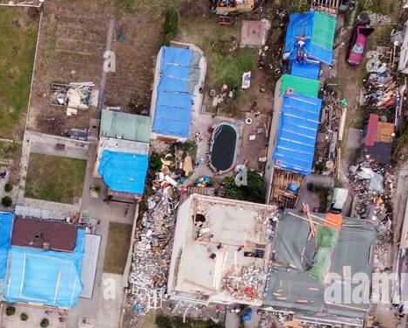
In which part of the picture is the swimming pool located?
center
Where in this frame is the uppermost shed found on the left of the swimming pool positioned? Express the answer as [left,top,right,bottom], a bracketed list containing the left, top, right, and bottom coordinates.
[149,47,200,141]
